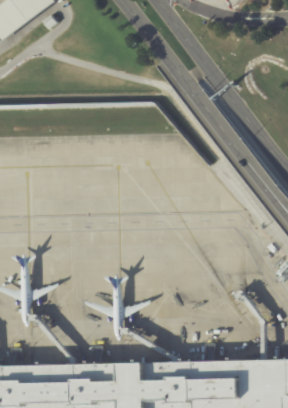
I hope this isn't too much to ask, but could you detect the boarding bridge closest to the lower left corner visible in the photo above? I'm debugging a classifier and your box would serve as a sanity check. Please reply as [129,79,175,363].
[25,312,80,364]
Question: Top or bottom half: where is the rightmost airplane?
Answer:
bottom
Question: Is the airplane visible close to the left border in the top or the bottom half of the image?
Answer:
bottom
